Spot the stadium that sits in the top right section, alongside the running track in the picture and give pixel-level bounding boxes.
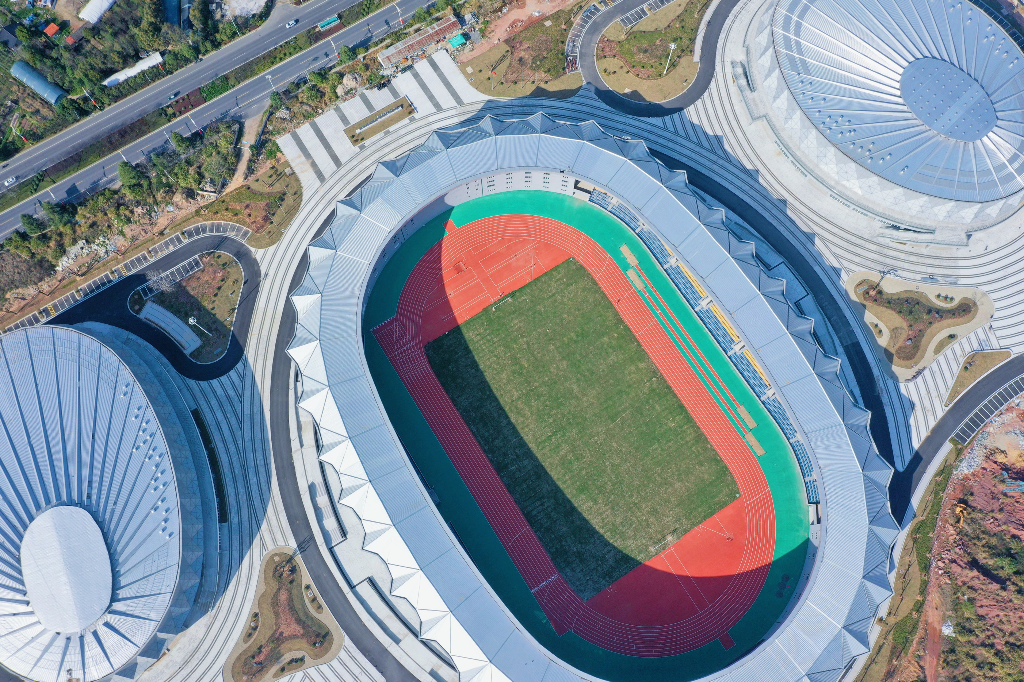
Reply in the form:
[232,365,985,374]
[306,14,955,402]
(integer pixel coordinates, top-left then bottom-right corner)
[729,0,1024,250]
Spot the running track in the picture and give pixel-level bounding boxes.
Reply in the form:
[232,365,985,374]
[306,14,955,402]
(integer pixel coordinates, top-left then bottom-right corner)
[362,188,811,682]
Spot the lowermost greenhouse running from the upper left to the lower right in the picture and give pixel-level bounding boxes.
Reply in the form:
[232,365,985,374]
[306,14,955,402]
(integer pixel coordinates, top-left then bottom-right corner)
[11,61,68,107]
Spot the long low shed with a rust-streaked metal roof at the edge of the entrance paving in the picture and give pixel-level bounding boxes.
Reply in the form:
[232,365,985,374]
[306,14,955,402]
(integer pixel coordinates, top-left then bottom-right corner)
[378,15,461,69]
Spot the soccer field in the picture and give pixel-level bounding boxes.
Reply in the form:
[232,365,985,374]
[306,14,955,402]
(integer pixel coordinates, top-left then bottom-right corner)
[424,257,741,602]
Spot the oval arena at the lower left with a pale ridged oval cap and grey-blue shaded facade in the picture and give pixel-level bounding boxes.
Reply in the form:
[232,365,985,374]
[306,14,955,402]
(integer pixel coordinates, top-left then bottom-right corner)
[0,321,223,682]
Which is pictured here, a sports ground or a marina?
sports ground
